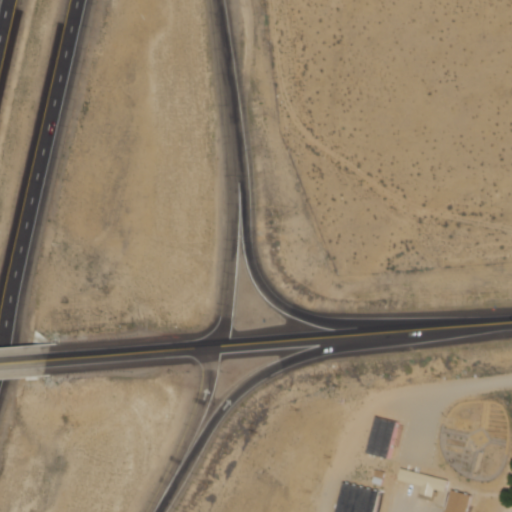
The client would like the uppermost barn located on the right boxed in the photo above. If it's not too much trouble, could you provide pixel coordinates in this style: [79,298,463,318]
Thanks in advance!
[366,415,403,458]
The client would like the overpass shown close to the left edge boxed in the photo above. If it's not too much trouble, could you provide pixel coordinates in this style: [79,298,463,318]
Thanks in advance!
[0,330,56,380]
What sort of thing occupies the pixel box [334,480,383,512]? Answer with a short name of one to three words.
barn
